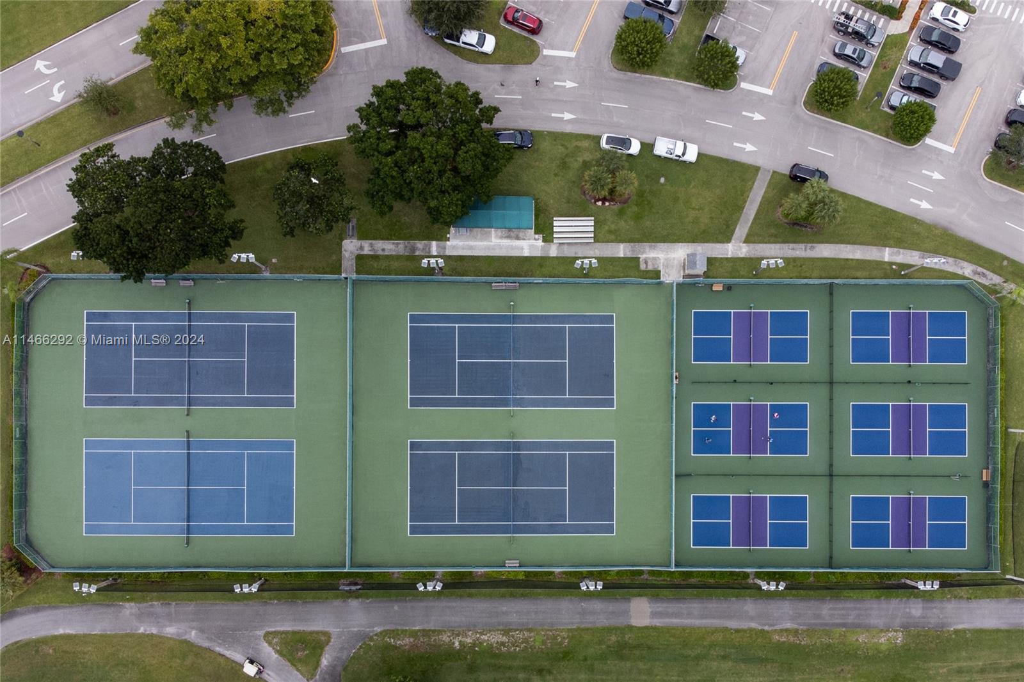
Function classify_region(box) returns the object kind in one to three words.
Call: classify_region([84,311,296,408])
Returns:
tennis court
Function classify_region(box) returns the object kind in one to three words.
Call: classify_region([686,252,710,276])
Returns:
shed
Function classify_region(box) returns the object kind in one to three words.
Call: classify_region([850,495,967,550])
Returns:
sports court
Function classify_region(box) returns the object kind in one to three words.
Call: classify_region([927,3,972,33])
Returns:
car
